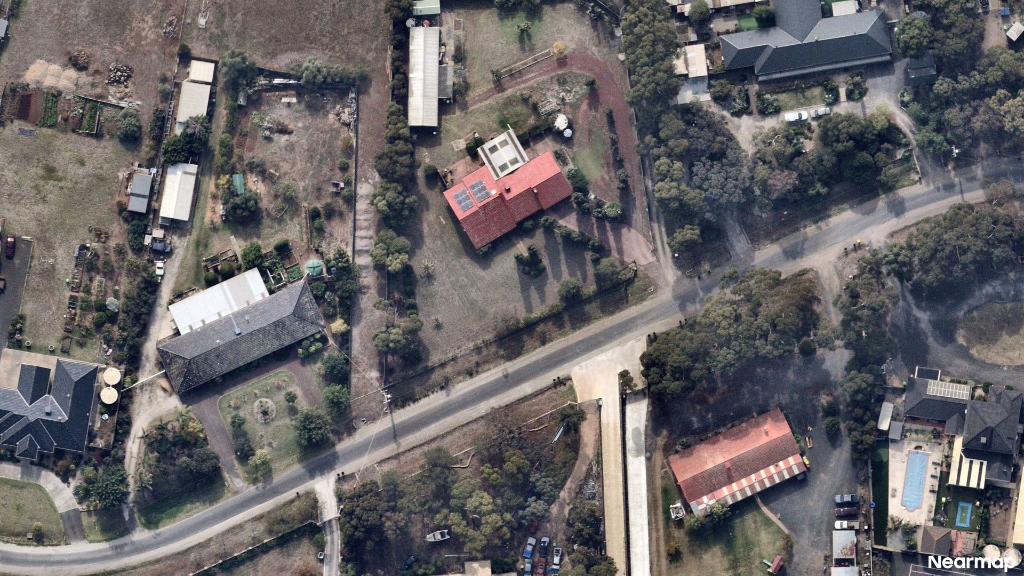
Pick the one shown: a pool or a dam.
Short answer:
pool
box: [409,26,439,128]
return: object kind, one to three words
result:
shed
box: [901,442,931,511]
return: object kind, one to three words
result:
swimming pool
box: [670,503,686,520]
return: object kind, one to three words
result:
gazebo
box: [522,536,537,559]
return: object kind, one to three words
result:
car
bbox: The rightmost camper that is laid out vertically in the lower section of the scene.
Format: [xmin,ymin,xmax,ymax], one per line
[877,398,894,430]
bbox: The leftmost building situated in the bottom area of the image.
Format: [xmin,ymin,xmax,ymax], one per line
[0,359,100,462]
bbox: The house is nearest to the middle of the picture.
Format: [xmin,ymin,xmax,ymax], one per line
[443,148,574,249]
